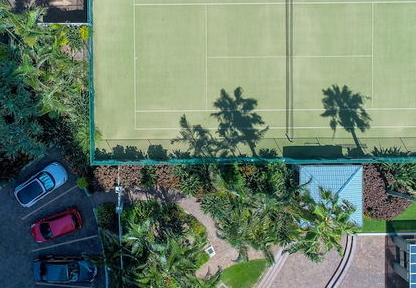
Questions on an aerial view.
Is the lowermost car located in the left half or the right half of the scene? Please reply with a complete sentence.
You can find the lowermost car on the left side of the picture.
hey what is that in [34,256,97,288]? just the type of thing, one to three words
car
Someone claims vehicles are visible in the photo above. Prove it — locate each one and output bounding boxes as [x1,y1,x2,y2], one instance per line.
[30,208,84,245]
[34,256,97,288]
[11,159,70,209]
